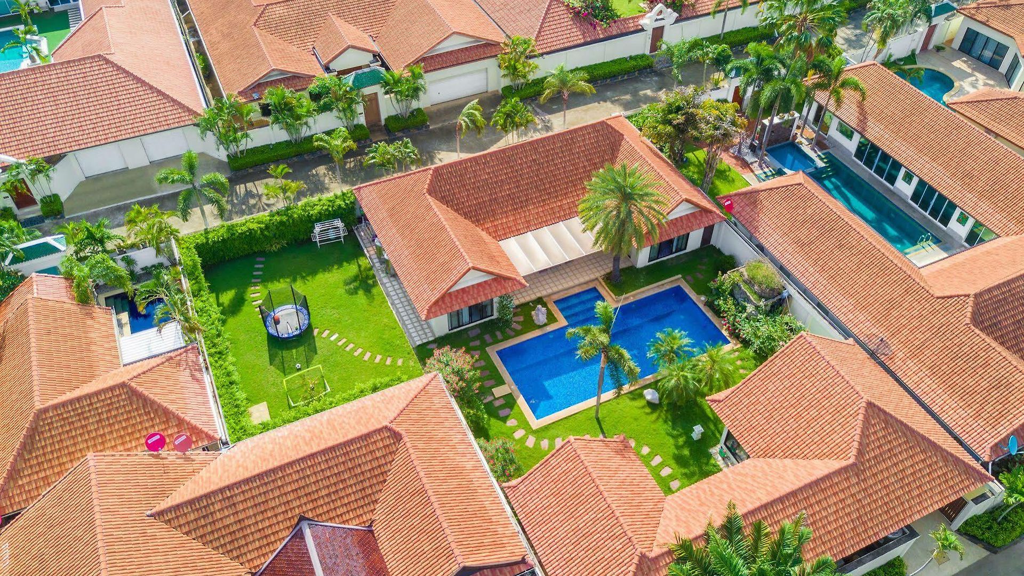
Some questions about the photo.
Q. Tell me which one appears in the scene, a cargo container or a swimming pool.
swimming pool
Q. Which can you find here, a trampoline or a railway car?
trampoline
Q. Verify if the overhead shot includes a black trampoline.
No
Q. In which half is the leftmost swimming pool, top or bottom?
top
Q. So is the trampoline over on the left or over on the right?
left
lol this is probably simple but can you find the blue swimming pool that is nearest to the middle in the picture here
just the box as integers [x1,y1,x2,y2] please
[485,272,741,428]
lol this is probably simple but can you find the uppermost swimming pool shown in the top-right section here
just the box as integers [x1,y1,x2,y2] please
[883,63,958,116]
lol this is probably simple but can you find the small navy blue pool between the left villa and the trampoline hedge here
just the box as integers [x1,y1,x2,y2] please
[105,274,184,332]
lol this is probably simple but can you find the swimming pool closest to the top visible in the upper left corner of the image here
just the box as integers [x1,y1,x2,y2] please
[0,22,51,72]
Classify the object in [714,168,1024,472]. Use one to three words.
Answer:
house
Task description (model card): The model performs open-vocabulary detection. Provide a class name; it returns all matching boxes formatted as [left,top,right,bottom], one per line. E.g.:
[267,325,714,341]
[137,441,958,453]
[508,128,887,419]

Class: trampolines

[255,284,312,347]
